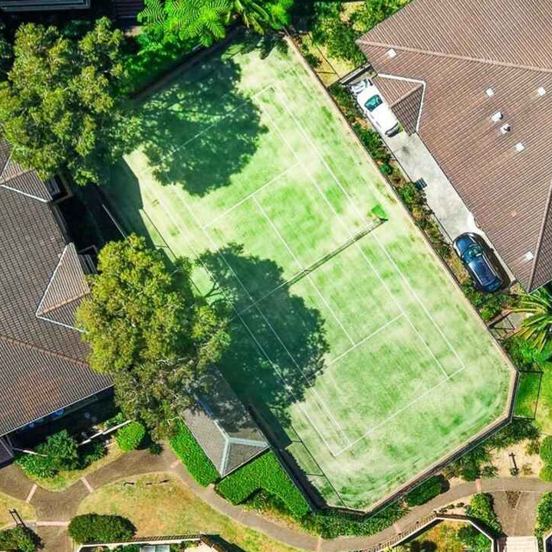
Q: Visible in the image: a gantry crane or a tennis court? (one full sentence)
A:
It is a tennis court that can be seen here.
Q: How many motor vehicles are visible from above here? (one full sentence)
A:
The photo contains 2 motor vehicles.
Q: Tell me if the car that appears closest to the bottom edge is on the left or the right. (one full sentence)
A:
It is on the right.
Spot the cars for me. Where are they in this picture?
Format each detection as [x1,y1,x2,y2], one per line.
[350,77,401,139]
[454,230,504,297]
